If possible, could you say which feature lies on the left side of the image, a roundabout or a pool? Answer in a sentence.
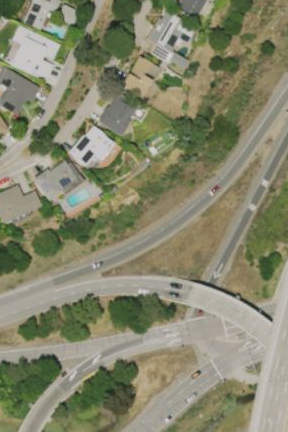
The one visible on the left side of the image is a pool.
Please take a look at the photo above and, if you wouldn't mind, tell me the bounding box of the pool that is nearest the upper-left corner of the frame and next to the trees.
[46,23,66,40]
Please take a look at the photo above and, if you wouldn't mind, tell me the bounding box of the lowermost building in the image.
[0,184,42,224]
